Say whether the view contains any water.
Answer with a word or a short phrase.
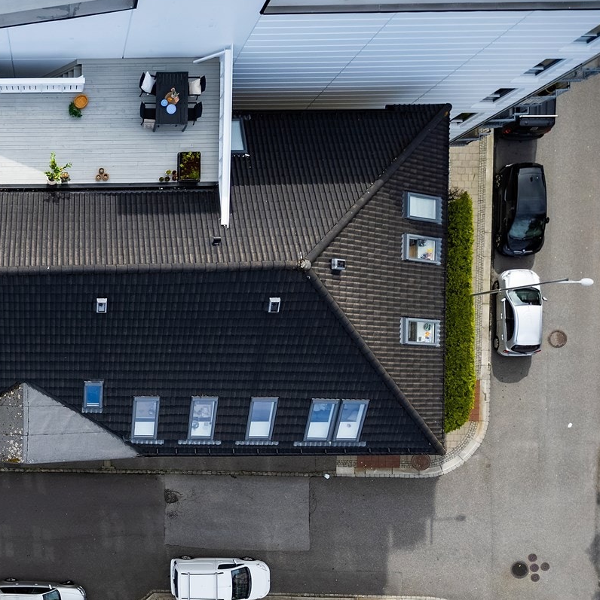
No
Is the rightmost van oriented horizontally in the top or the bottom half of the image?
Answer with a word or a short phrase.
bottom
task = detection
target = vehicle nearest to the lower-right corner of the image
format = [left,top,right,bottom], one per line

[491,267,547,359]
